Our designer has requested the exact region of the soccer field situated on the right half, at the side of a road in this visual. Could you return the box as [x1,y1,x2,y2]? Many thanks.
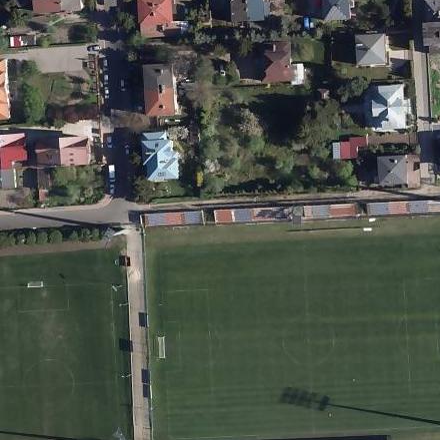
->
[144,214,440,440]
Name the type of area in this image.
sports ground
